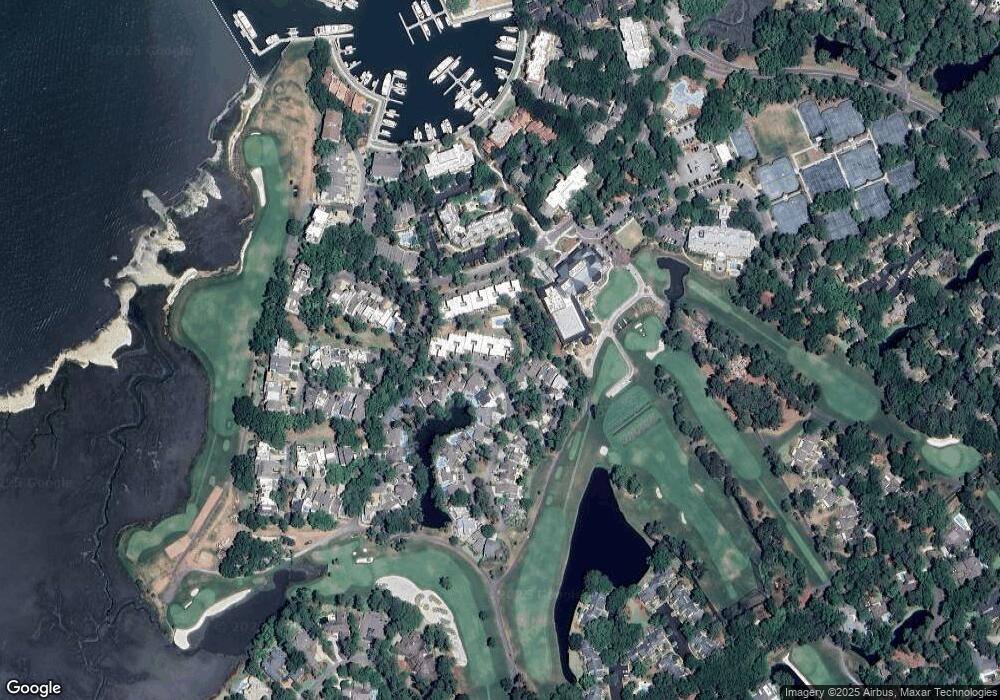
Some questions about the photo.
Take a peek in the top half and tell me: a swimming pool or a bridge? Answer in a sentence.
What appears in the top half is a swimming pool.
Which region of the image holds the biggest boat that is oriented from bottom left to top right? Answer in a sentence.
The biggest boat that is oriented from bottom left to top right is in the top part of the image.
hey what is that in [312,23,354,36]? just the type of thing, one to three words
boat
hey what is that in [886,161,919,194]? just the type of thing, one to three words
tennis court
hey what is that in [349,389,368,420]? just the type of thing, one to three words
house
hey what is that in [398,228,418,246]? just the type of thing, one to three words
swimming pool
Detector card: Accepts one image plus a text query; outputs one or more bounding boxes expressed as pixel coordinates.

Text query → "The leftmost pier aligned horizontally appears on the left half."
[234,15,336,56]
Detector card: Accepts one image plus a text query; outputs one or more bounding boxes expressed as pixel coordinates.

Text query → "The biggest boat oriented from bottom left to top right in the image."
[428,53,457,80]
